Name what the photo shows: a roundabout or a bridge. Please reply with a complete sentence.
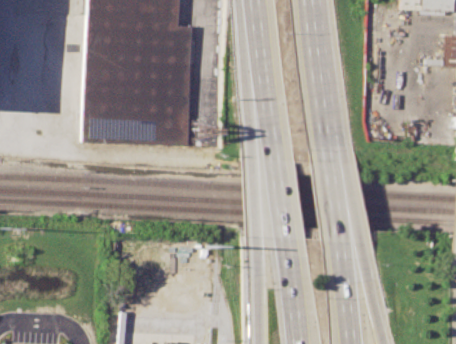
Visible in the photo is a bridge.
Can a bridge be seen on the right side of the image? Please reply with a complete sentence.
Yes, you'll find a bridge on the right side of the image.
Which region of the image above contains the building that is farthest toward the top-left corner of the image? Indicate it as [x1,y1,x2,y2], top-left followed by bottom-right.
[79,0,192,144]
